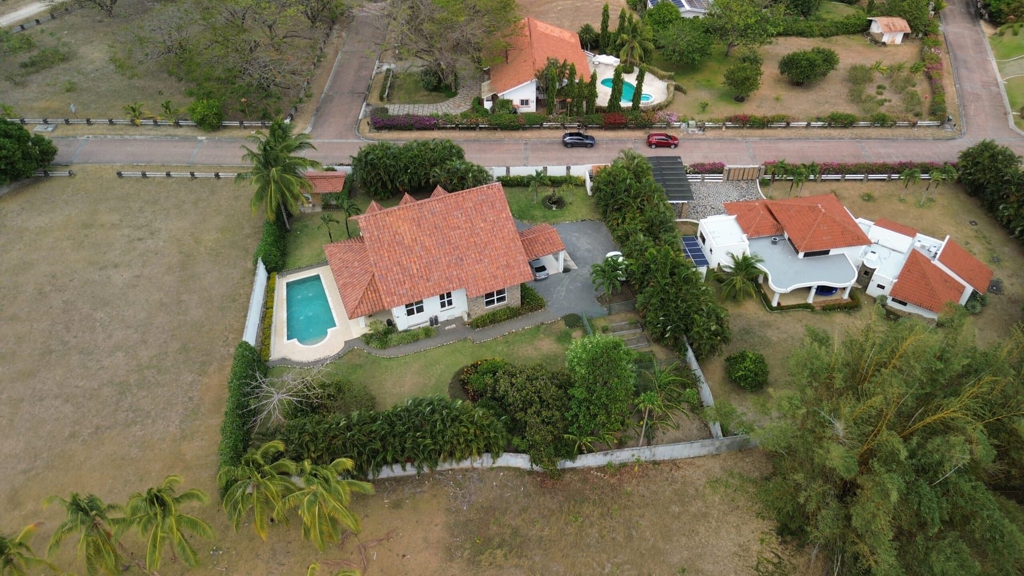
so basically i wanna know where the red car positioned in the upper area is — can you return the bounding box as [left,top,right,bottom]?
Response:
[646,133,680,149]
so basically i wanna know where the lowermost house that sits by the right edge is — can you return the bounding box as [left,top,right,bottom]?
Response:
[696,192,993,329]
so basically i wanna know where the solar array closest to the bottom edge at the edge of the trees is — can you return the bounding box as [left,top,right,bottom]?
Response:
[674,236,709,280]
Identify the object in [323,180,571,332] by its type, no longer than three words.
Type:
house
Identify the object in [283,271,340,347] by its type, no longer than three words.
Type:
swimming pool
